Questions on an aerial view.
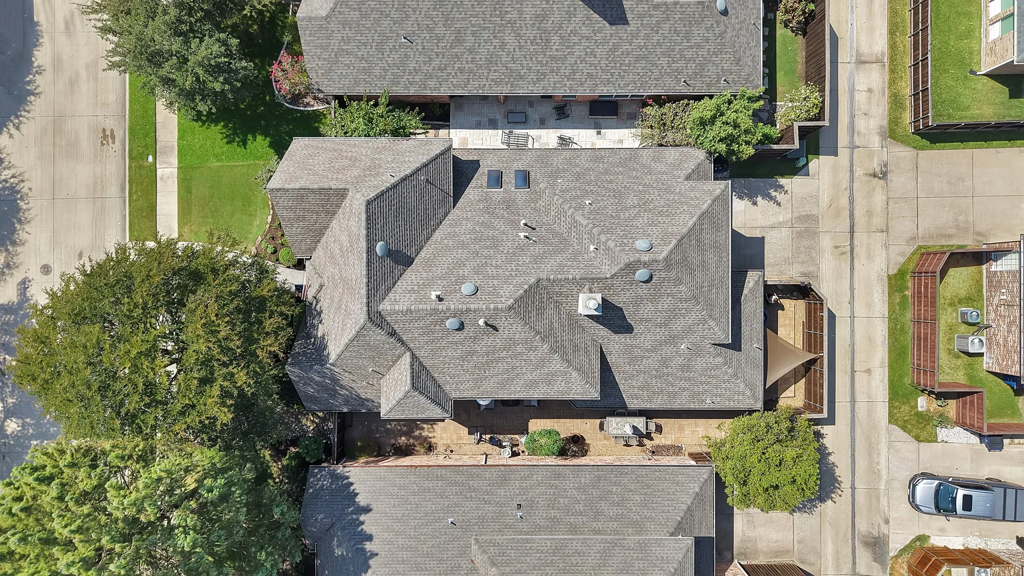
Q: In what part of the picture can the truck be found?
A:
bottom right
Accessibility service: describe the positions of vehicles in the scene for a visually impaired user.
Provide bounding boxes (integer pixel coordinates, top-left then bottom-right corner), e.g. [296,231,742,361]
[906,473,1024,524]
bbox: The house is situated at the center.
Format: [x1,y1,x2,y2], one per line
[266,135,766,421]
